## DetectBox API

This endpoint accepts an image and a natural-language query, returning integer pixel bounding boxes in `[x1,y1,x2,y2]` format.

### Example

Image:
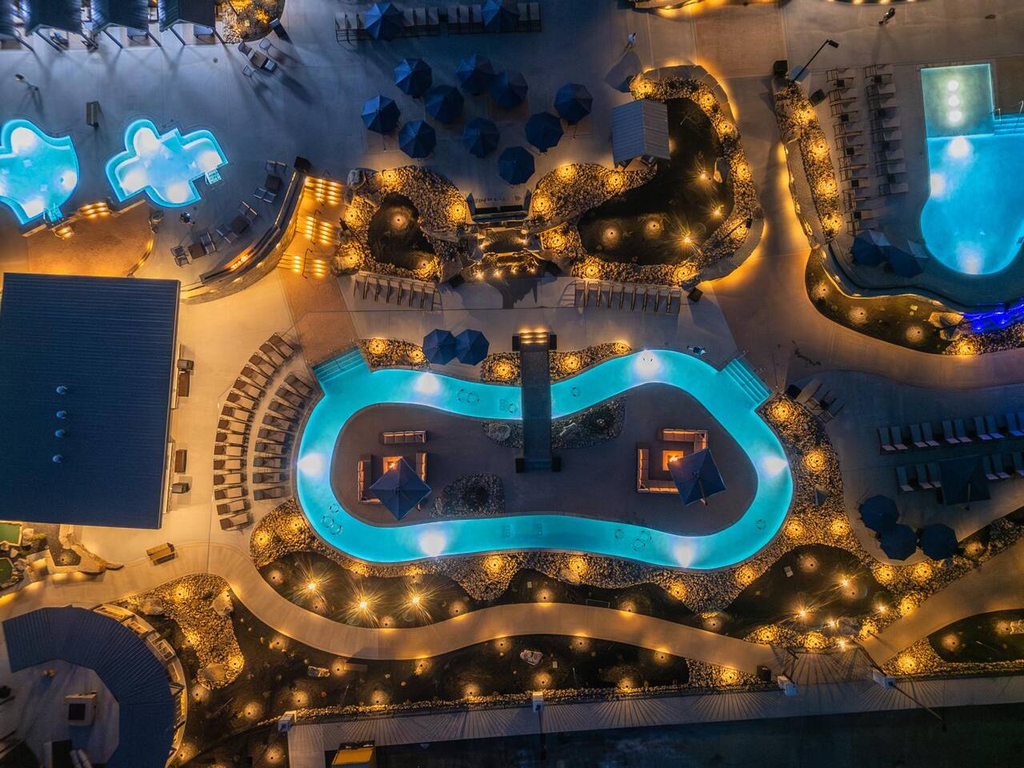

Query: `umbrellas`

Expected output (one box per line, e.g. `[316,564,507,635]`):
[488,72,528,113]
[870,519,915,560]
[395,59,435,100]
[551,84,594,128]
[875,239,924,283]
[453,326,494,367]
[397,120,440,164]
[455,56,495,97]
[843,231,885,271]
[369,457,432,521]
[360,95,403,138]
[496,146,538,189]
[852,491,896,532]
[669,449,726,514]
[523,113,565,155]
[939,455,991,516]
[910,520,954,560]
[362,2,405,48]
[462,120,502,161]
[420,328,456,368]
[425,87,466,128]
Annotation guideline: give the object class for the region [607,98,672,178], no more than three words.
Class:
shed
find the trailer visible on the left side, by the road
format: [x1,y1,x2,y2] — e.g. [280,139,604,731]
[331,739,377,768]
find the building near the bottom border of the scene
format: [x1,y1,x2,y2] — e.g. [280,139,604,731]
[2,598,196,768]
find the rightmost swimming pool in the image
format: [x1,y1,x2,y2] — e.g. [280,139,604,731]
[916,60,1024,279]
